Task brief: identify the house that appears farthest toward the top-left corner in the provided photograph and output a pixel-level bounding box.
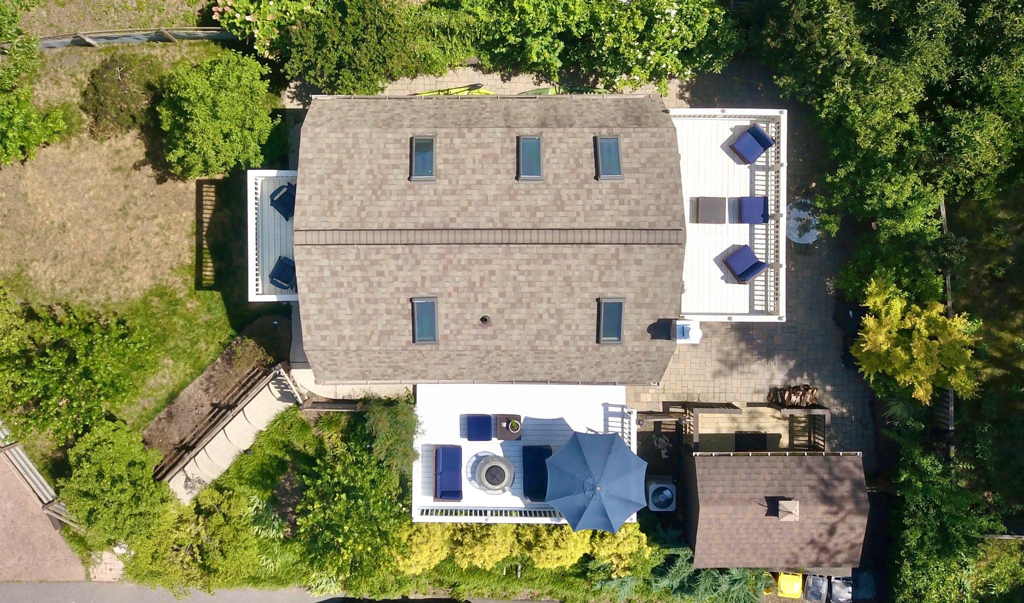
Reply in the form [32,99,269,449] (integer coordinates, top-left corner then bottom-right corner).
[295,93,701,386]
